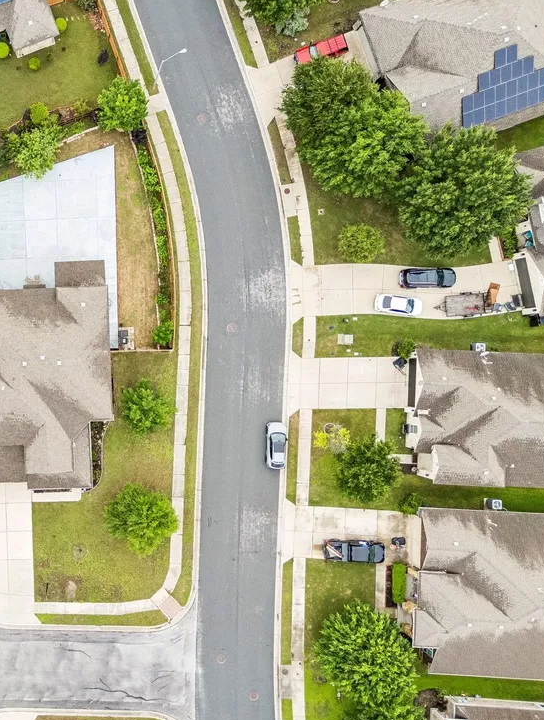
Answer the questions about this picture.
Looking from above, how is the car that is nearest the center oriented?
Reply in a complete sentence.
In this picture, the car that is nearest the center lies vertically.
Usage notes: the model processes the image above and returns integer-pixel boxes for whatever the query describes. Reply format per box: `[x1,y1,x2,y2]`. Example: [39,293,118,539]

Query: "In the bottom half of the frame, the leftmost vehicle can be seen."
[264,421,289,469]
